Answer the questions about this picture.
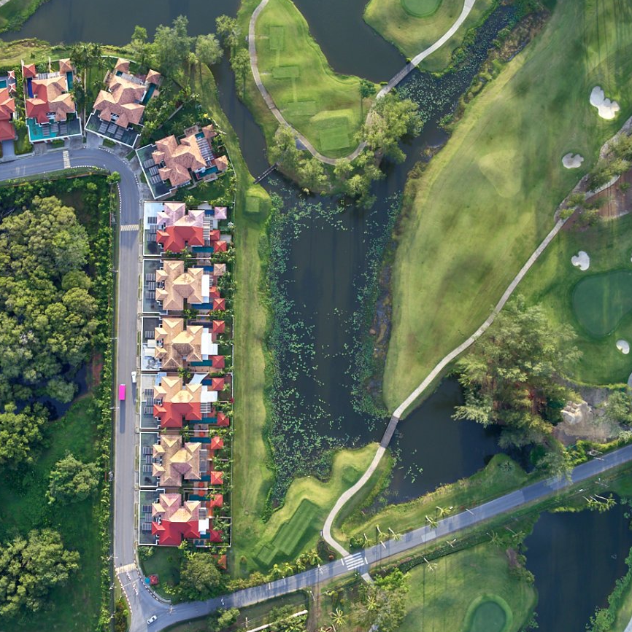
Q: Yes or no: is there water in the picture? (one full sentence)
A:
Yes, water can be seen from above here.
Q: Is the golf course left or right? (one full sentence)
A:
It is on the right.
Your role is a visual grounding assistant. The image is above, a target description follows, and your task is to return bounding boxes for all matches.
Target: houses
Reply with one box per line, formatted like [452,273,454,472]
[136,136,211,199]
[140,434,206,489]
[139,492,210,548]
[142,259,213,313]
[143,200,215,256]
[141,375,217,430]
[141,318,218,372]
[27,74,82,142]
[84,74,147,148]
[0,84,18,139]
